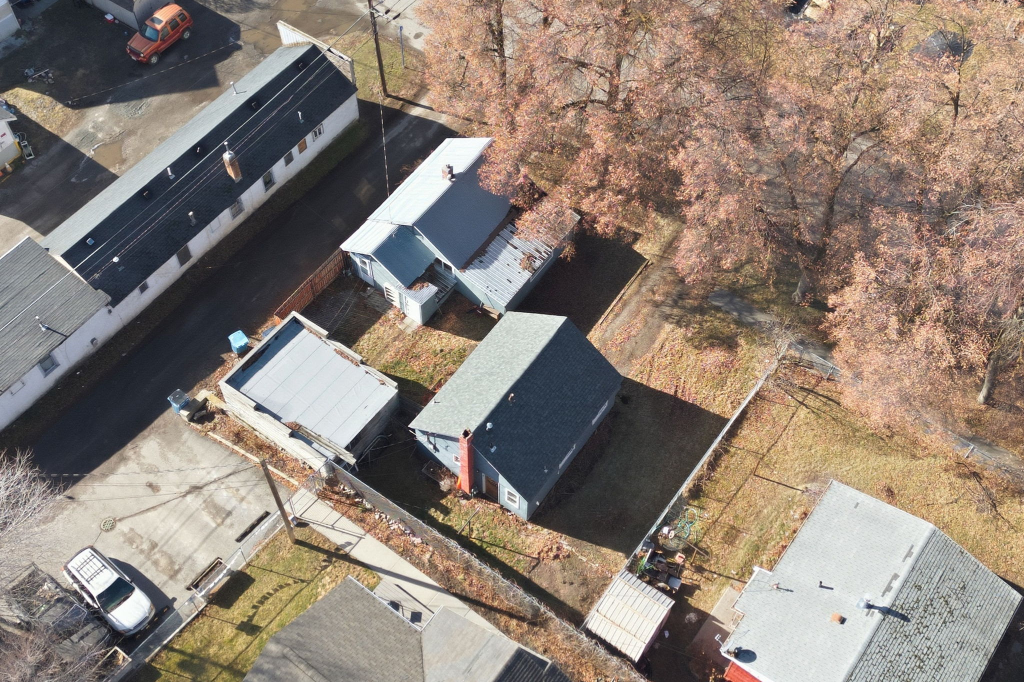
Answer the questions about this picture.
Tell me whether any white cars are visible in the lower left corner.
Yes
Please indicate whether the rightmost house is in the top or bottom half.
bottom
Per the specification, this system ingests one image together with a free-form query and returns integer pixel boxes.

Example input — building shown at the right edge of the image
[716,476,1024,682]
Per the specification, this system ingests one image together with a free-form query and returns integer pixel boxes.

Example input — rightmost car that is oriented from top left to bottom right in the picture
[57,542,159,635]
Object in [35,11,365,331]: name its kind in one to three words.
building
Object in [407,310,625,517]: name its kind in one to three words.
house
